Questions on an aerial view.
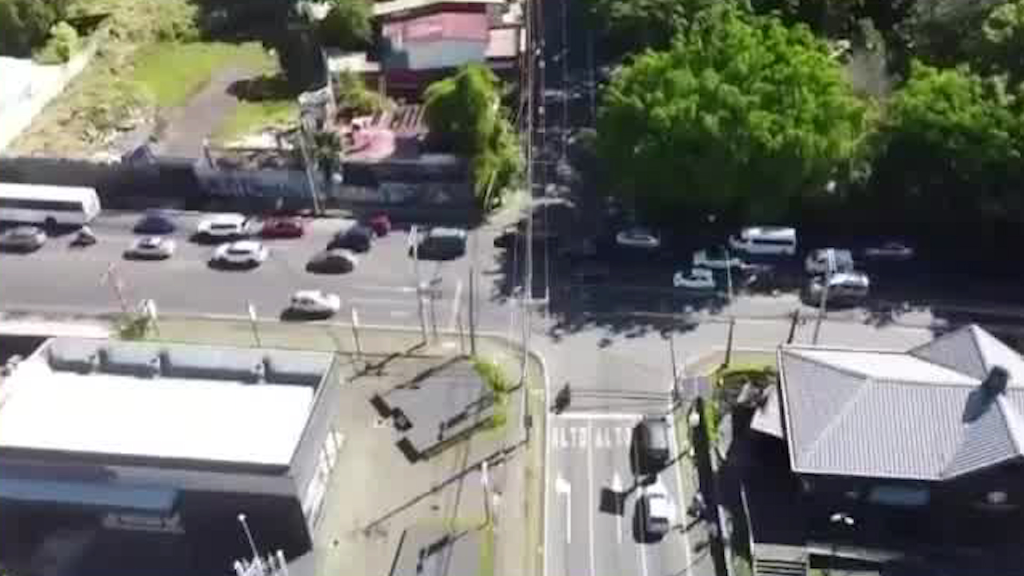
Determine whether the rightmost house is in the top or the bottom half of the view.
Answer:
bottom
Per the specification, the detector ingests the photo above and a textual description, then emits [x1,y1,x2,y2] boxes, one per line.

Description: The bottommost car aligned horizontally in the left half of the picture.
[281,289,344,319]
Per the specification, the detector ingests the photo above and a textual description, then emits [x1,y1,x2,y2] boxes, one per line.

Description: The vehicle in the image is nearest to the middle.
[488,226,541,252]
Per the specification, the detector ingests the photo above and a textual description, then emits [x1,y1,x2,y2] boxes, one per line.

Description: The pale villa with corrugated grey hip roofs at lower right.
[774,325,1024,530]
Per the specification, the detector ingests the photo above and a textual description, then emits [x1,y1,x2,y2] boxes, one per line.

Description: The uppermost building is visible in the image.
[327,0,528,101]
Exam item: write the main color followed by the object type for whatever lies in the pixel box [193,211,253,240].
white car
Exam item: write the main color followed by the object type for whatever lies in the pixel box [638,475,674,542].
white car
